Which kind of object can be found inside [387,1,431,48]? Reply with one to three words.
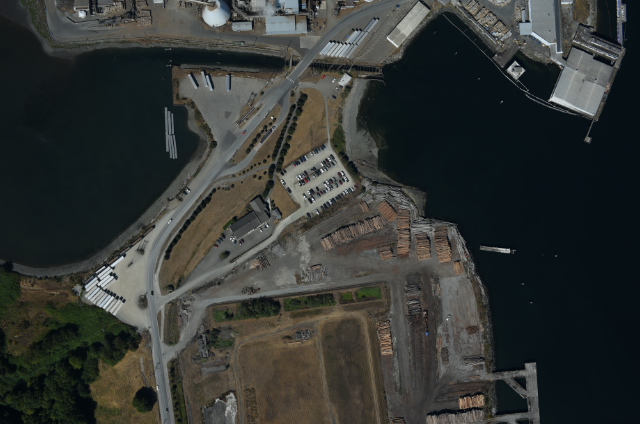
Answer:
building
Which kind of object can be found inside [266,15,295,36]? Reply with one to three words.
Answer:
shed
